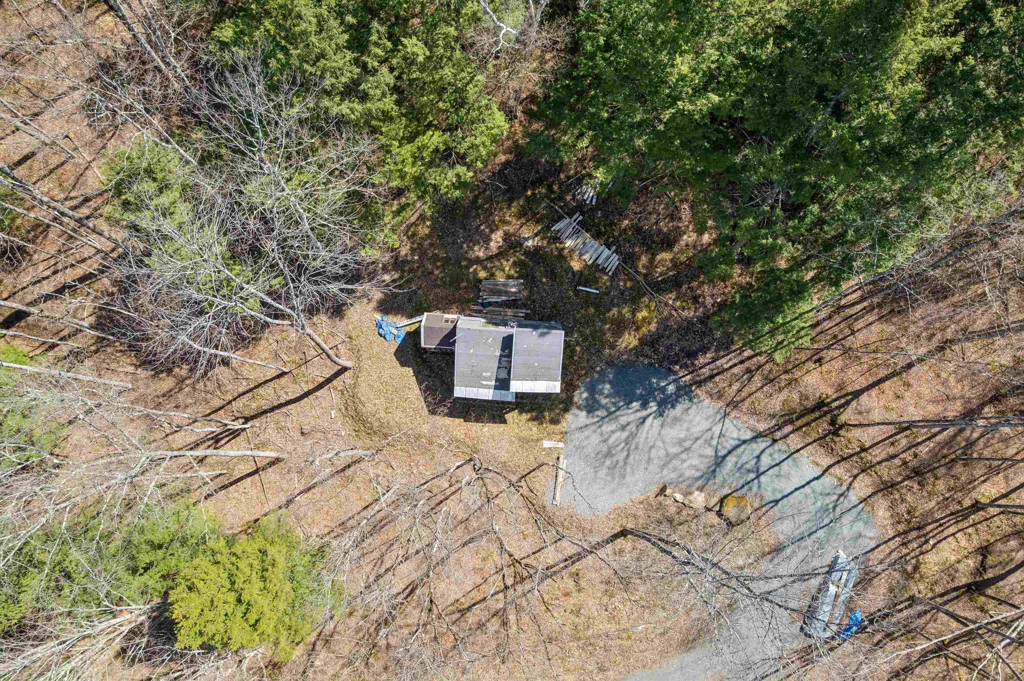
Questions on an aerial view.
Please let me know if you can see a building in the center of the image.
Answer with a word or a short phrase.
Yes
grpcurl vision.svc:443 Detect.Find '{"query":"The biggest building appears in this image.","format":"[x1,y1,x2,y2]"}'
[453,315,572,402]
